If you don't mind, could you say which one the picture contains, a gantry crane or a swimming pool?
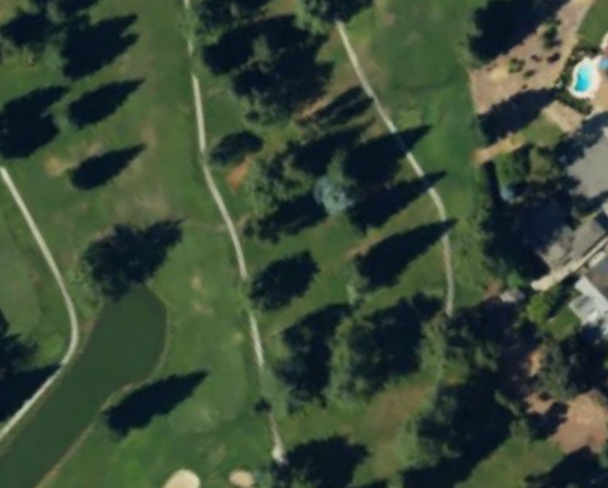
swimming pool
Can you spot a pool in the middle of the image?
No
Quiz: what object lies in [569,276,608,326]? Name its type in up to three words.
house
